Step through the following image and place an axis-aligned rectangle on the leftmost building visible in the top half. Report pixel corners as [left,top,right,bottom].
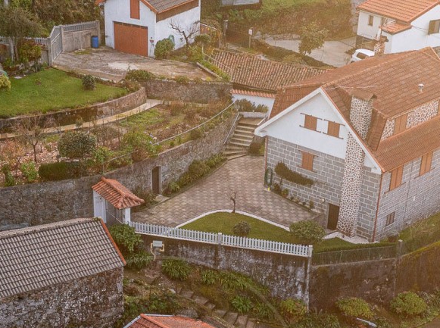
[96,0,205,63]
